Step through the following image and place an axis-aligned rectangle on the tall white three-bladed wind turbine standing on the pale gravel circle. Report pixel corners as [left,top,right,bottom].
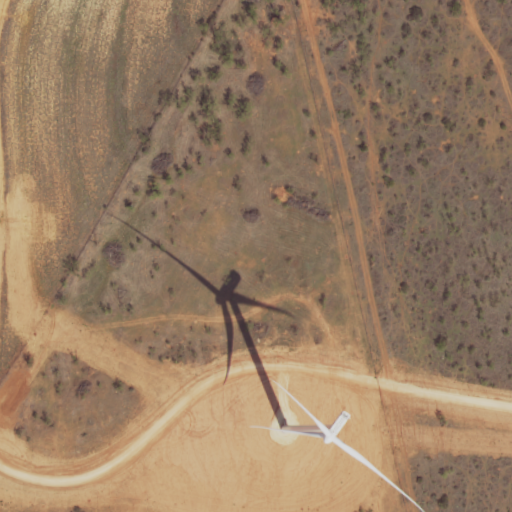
[254,386,429,511]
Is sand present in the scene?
Yes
